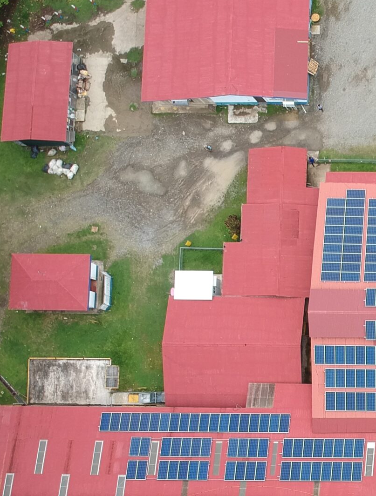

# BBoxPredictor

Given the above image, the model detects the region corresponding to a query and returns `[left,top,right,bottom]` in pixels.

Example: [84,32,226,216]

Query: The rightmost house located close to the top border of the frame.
[142,0,313,118]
